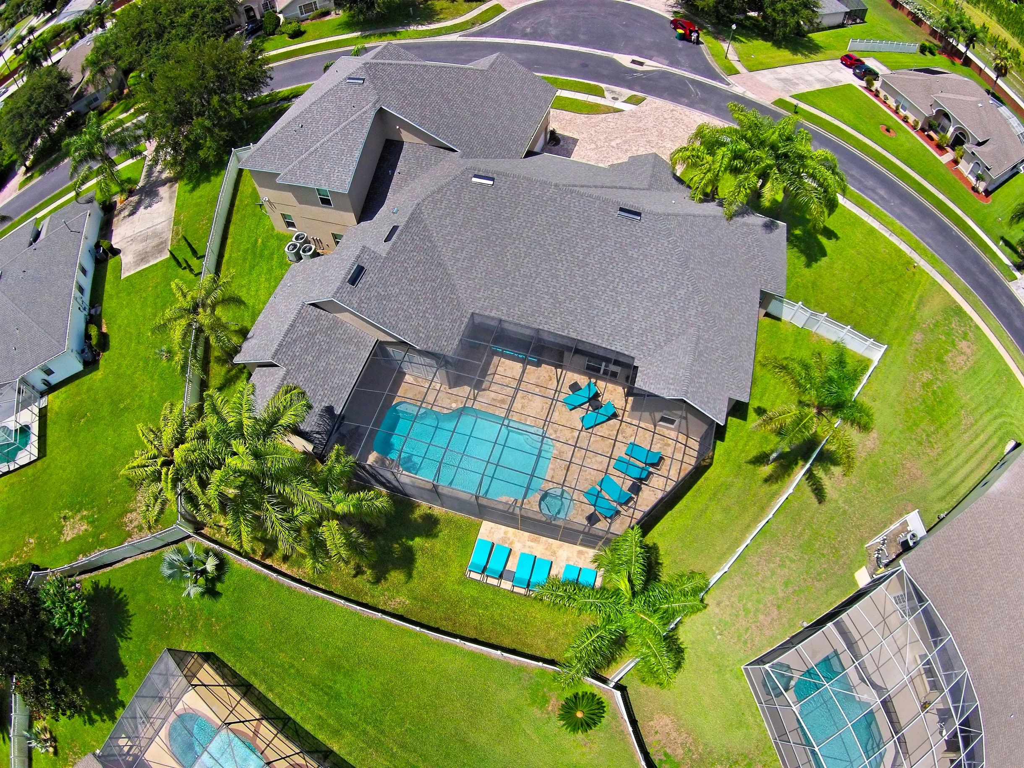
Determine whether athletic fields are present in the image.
No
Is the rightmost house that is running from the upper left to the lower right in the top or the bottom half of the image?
top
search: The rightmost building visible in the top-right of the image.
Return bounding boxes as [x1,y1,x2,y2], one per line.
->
[877,67,1024,190]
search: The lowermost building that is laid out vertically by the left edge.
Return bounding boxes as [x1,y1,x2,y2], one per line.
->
[0,190,102,406]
